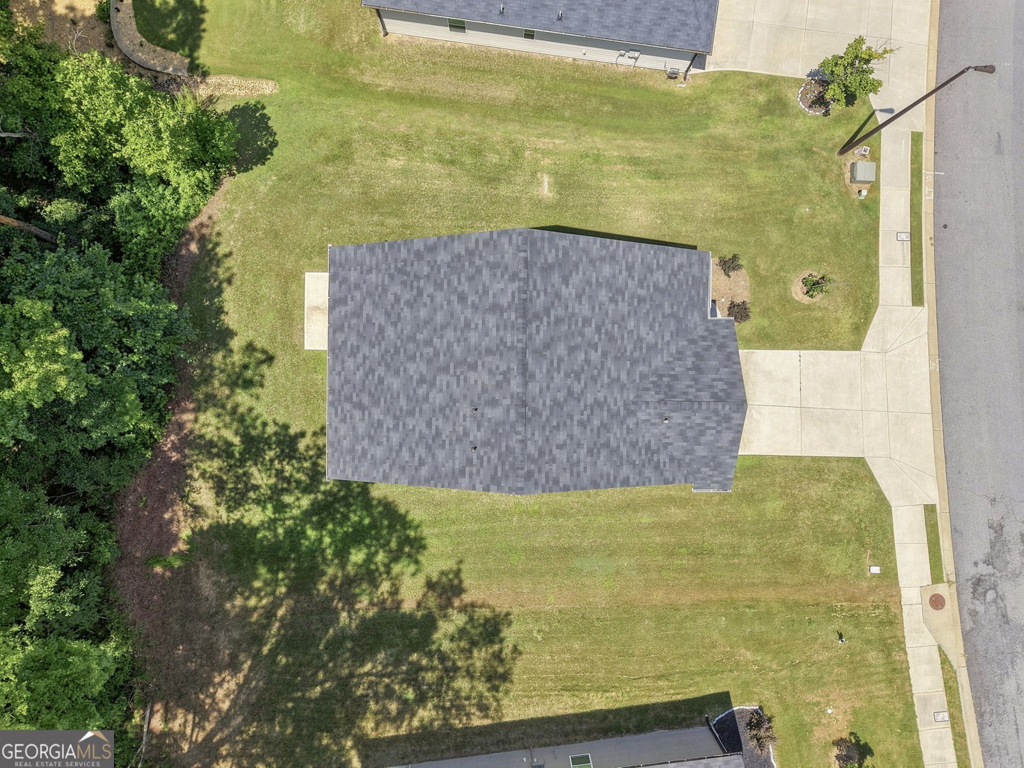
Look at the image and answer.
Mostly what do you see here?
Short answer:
grass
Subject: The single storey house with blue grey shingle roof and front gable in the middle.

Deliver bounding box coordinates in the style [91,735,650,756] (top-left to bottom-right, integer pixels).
[325,229,748,496]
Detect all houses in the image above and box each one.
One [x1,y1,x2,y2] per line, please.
[367,714,745,768]
[357,0,724,88]
[325,229,748,496]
